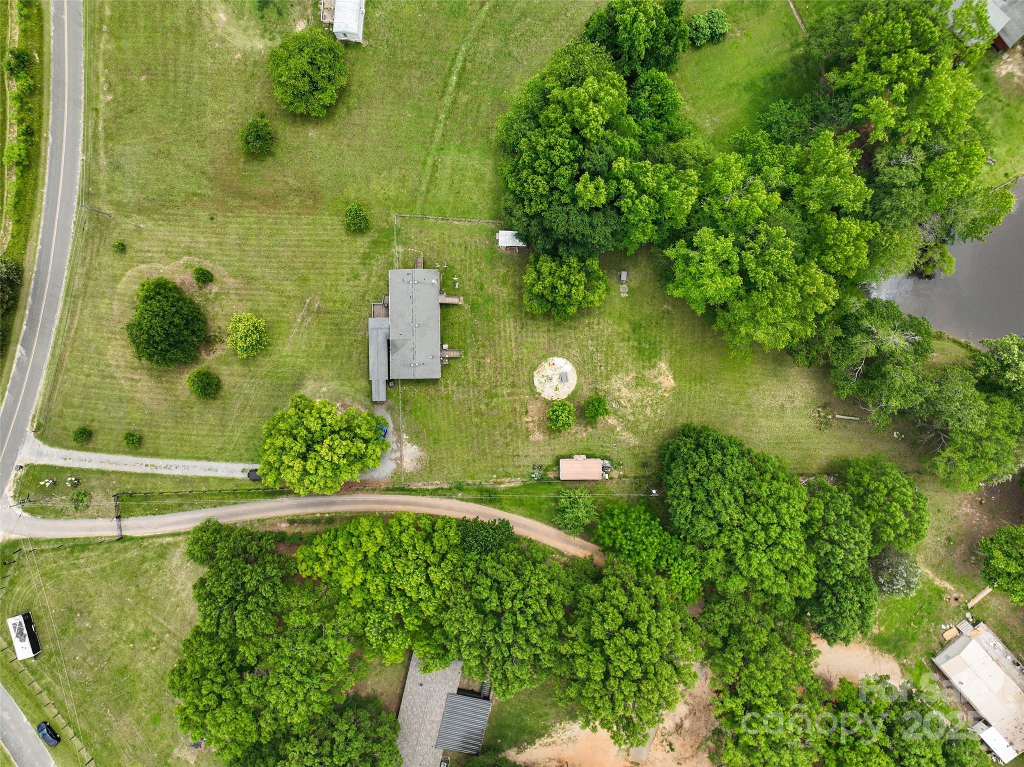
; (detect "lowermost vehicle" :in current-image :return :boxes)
[40,720,60,746]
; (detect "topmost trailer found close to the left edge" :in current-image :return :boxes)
[7,611,42,659]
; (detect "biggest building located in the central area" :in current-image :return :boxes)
[369,257,461,379]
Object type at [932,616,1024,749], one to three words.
house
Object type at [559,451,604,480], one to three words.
shed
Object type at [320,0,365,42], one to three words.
house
